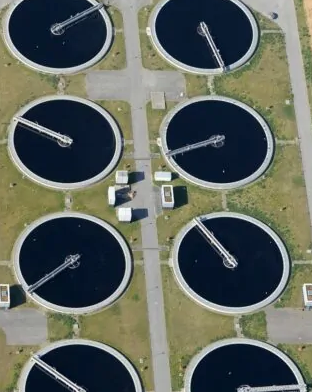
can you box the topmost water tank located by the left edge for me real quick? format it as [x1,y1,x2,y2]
[2,0,113,75]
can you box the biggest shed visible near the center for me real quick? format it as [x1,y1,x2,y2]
[161,185,175,211]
